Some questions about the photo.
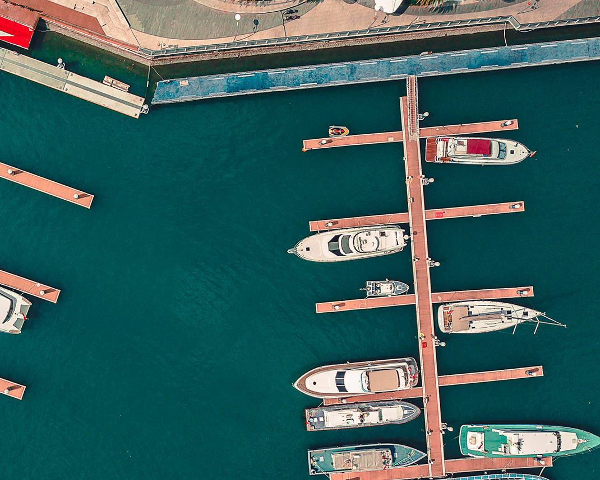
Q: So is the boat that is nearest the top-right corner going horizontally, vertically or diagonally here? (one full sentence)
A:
From this overhead view, the boat that is nearest the top-right corner appears to run horizontally.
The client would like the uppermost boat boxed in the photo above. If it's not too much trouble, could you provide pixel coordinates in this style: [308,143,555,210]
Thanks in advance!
[328,124,350,138]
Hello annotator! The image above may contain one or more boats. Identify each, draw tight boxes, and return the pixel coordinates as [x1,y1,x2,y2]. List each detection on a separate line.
[425,135,536,166]
[437,300,565,333]
[328,124,350,138]
[307,442,427,475]
[456,423,600,458]
[305,401,420,431]
[293,356,419,398]
[359,278,410,296]
[0,286,32,333]
[287,225,409,263]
